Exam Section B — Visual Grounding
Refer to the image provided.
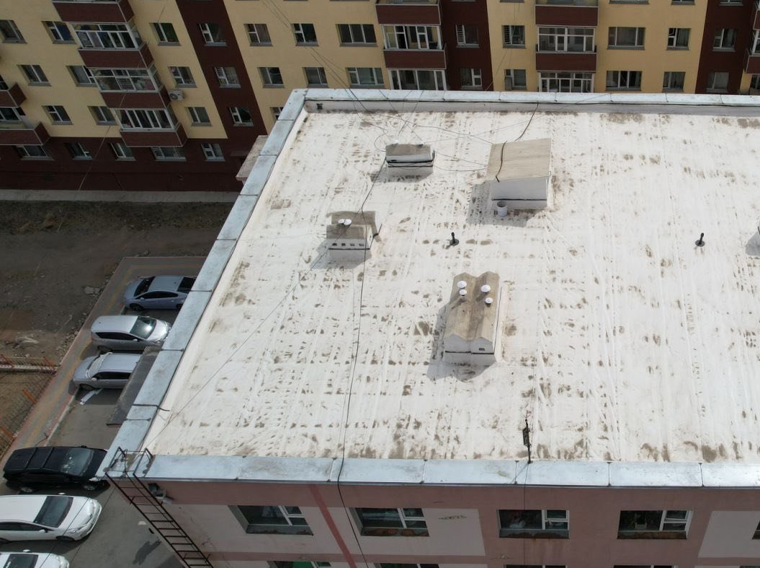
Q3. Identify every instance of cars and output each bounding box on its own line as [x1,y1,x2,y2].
[0,436,117,489]
[71,348,145,391]
[0,550,70,568]
[86,312,181,352]
[0,490,100,543]
[120,272,204,310]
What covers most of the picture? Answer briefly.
buildings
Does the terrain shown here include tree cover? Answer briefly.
No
